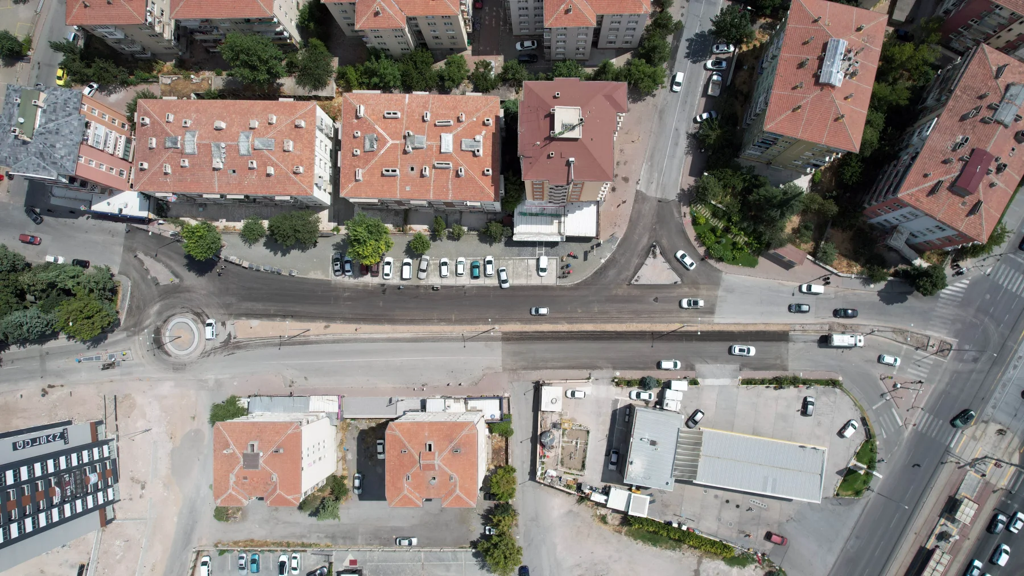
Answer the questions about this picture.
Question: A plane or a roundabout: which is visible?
roundabout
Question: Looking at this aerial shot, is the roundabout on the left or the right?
left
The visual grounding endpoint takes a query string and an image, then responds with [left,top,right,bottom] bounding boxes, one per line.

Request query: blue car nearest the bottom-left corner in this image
[248,552,261,574]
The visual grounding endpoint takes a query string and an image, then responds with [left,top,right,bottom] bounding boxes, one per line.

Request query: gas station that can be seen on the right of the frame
[620,401,685,492]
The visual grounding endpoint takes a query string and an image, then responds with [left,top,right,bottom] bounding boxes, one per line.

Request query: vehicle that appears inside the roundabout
[203,318,218,342]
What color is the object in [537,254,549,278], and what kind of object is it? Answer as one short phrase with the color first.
white vehicle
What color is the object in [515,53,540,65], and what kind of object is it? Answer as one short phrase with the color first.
black vehicle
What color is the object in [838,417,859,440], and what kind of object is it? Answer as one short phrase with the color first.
white car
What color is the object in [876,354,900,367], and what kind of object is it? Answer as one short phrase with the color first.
white vehicle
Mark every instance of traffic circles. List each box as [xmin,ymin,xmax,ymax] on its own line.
[134,289,227,382]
